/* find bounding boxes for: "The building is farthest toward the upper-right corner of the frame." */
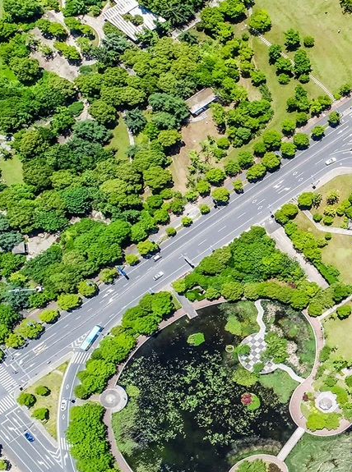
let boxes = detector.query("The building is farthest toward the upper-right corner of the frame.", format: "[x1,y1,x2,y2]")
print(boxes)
[183,86,218,123]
